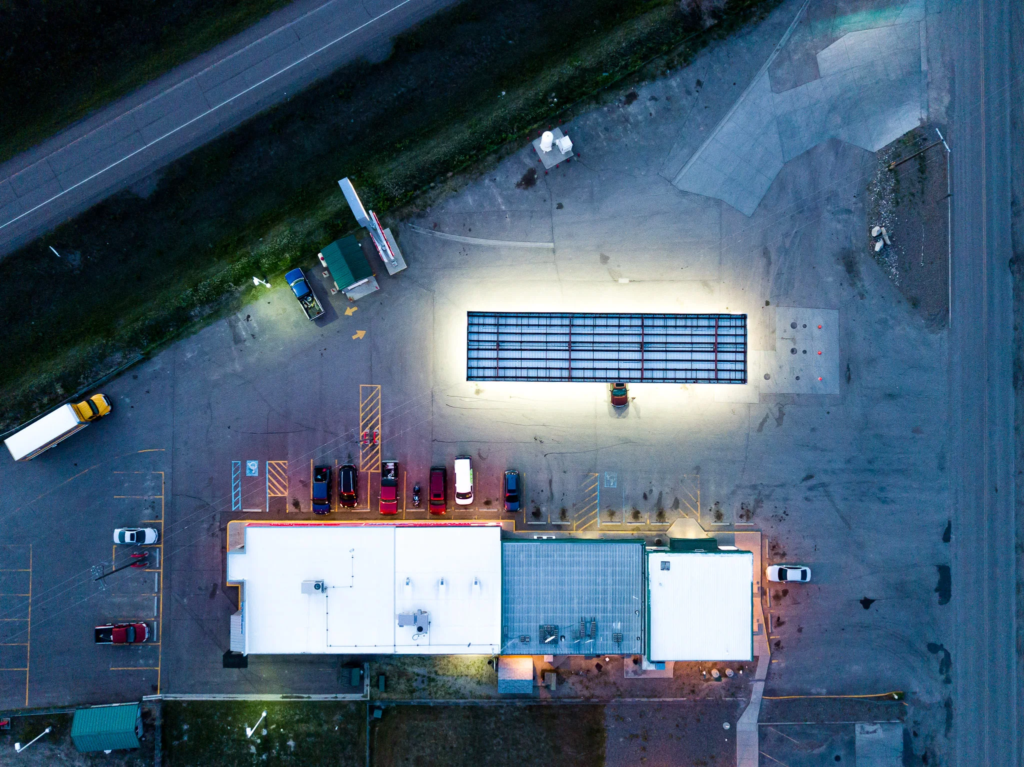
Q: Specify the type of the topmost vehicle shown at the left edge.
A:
truck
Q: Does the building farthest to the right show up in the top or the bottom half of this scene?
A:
bottom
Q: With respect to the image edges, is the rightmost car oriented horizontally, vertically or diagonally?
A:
horizontally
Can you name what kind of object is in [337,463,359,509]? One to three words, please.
car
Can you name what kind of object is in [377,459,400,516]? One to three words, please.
truck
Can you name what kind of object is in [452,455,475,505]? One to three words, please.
vehicle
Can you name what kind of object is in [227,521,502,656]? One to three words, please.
building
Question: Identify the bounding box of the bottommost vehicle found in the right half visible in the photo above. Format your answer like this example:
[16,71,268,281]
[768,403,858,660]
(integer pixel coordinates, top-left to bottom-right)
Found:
[765,564,811,585]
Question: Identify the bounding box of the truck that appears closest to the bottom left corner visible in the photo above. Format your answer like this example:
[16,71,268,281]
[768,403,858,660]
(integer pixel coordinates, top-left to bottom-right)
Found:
[94,622,152,646]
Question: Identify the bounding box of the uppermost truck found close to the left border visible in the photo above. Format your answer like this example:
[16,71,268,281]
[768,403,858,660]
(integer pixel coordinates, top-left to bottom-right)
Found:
[5,387,124,459]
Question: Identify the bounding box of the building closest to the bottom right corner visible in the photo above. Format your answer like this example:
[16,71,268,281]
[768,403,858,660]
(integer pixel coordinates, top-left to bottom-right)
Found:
[644,537,753,662]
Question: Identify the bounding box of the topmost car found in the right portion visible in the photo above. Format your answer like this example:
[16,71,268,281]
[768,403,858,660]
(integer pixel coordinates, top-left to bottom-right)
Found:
[608,385,630,408]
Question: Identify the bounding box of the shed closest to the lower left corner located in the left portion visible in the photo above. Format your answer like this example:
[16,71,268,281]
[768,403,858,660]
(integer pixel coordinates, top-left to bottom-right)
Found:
[71,699,153,752]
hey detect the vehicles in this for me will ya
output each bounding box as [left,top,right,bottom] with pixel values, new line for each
[286,268,326,322]
[310,464,333,516]
[452,455,475,505]
[413,484,420,504]
[94,622,152,646]
[377,459,400,516]
[5,387,124,459]
[113,526,160,547]
[765,564,811,585]
[427,467,449,514]
[608,385,630,408]
[337,463,359,509]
